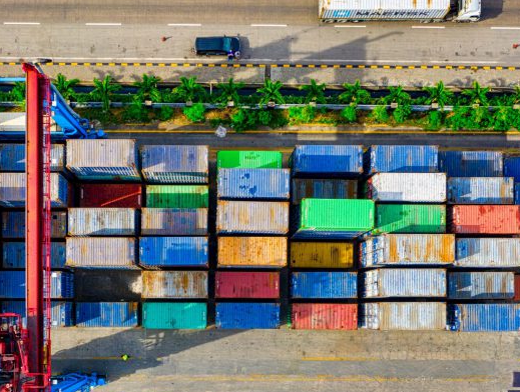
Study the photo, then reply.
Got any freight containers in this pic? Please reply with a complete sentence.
Yes, the image includes a freight container.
